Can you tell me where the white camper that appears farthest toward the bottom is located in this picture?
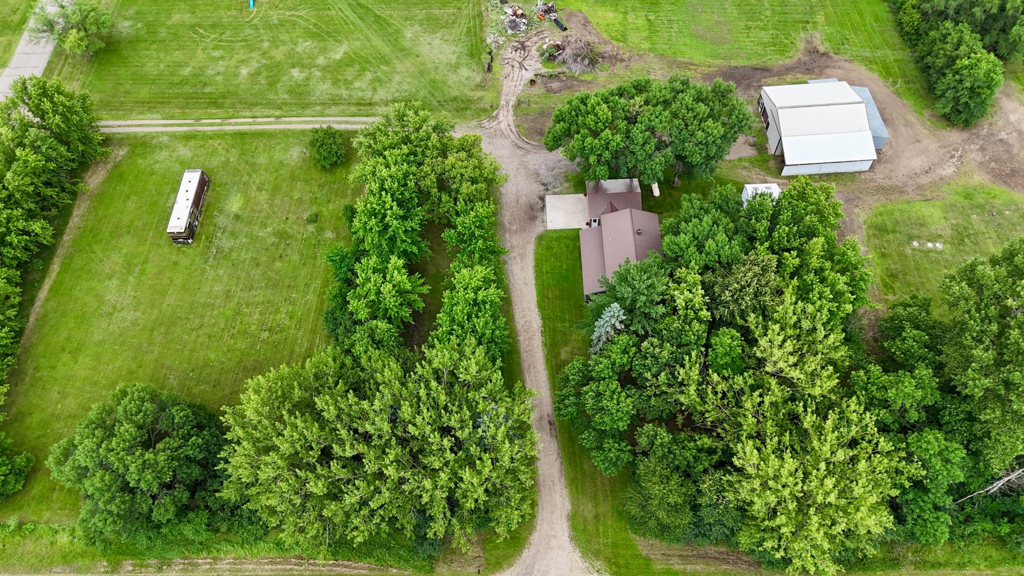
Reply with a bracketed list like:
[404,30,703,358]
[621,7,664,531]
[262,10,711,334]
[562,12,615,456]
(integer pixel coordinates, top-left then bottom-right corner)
[167,170,210,247]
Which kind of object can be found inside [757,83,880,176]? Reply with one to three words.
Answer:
barn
